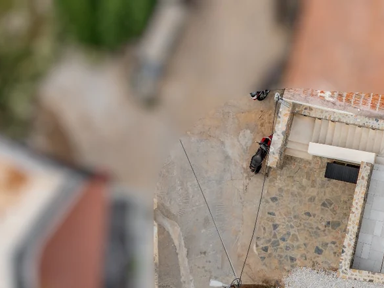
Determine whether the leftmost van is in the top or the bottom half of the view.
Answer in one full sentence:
Seen from above, the leftmost van lies in the top half of the view.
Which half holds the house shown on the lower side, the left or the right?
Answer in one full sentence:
You can find the house shown on the lower side on the left side of the picture.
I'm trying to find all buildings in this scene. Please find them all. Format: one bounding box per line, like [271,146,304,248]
[284,0,384,123]
[0,131,121,288]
